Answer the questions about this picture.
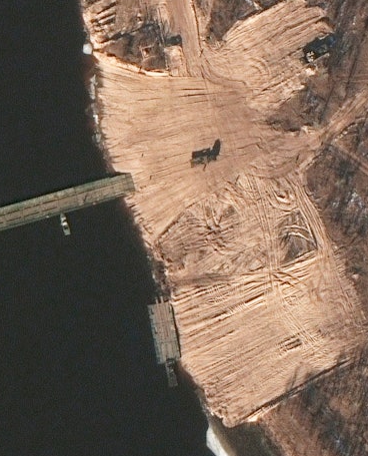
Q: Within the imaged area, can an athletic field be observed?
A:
No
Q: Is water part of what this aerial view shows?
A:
Yes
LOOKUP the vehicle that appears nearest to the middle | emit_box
[189,153,217,169]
